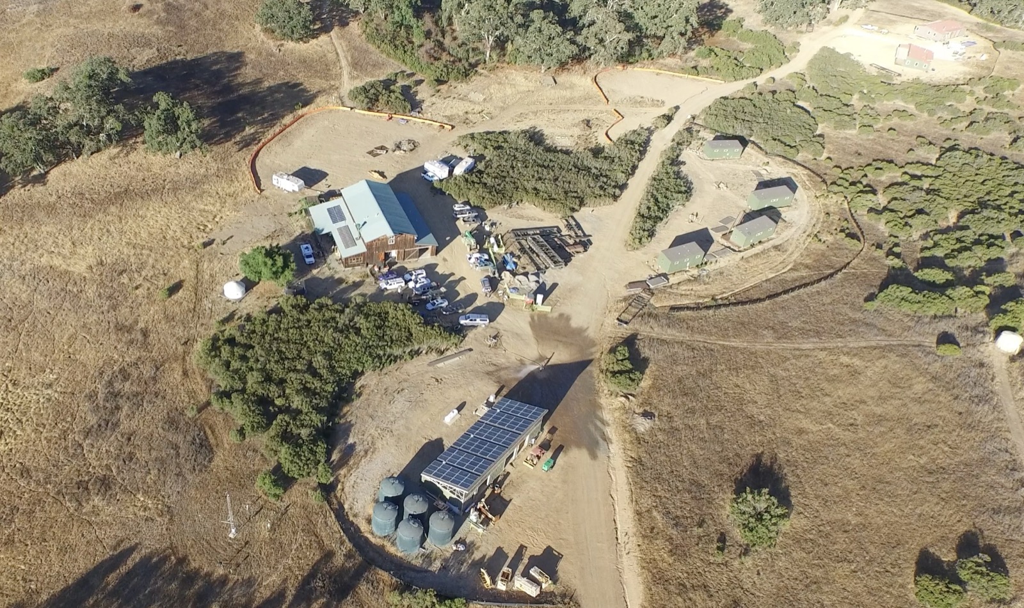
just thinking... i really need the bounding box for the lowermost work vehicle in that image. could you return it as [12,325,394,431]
[472,494,498,524]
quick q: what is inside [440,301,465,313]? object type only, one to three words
vehicle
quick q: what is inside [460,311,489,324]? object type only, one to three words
vehicle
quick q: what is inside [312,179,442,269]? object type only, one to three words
barn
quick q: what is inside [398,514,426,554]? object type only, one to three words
water tank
